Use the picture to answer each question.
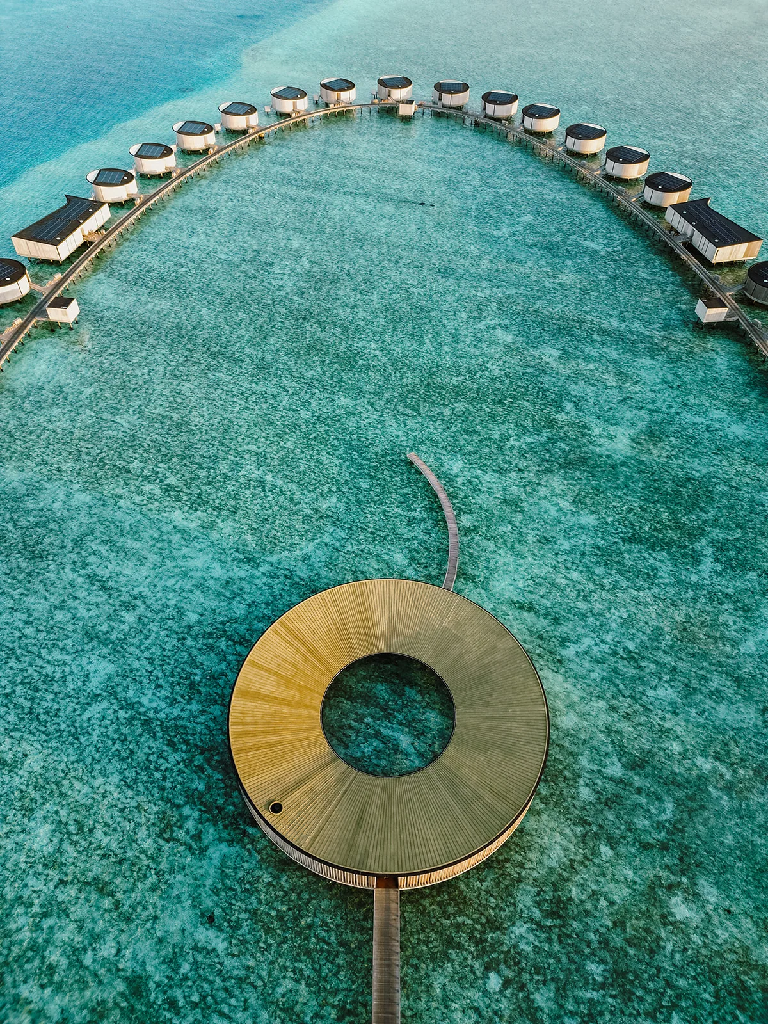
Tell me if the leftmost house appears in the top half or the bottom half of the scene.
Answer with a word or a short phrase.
top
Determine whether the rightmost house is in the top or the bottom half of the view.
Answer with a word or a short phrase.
top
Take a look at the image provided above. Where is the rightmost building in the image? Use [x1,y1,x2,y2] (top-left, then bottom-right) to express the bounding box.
[740,258,768,318]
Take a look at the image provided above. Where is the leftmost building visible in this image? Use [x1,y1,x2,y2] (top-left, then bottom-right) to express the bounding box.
[0,259,34,316]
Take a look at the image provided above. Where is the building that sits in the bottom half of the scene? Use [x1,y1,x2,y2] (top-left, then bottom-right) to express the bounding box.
[228,579,549,889]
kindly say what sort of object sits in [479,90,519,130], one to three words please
house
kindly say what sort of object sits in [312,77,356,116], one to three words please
house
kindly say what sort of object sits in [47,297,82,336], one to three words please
shed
